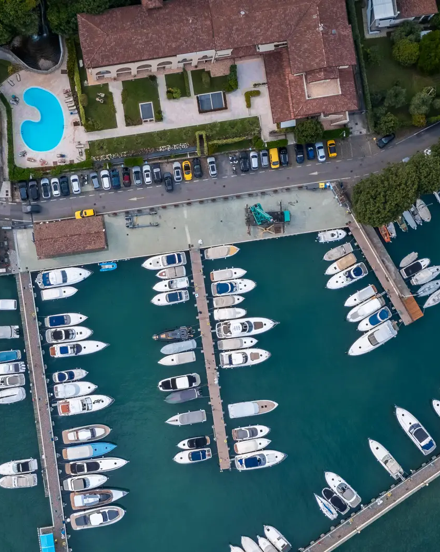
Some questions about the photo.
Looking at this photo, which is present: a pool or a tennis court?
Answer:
pool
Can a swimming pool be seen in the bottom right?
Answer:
No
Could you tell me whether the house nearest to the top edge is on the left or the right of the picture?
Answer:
right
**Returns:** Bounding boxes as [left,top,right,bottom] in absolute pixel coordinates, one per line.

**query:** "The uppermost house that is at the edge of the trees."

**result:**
[364,0,438,38]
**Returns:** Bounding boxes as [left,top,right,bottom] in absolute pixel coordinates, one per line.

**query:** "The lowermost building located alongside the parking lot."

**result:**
[33,215,107,259]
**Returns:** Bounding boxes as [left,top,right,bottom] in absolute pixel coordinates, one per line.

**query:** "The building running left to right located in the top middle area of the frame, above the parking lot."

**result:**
[76,0,357,126]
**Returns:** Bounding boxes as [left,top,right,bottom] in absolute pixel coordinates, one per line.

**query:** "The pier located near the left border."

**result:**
[16,271,69,552]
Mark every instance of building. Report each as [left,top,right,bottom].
[76,0,357,126]
[364,0,438,38]
[33,215,107,259]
